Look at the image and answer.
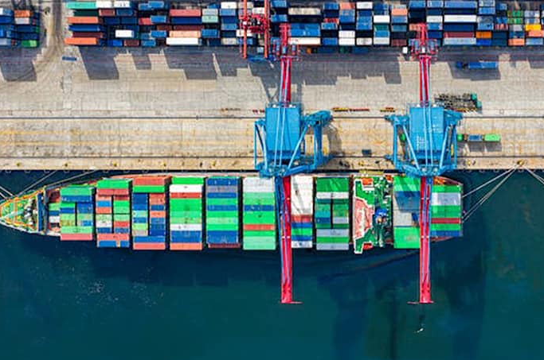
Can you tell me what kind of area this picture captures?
port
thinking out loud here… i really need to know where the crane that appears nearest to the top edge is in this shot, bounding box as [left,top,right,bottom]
[239,0,281,62]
